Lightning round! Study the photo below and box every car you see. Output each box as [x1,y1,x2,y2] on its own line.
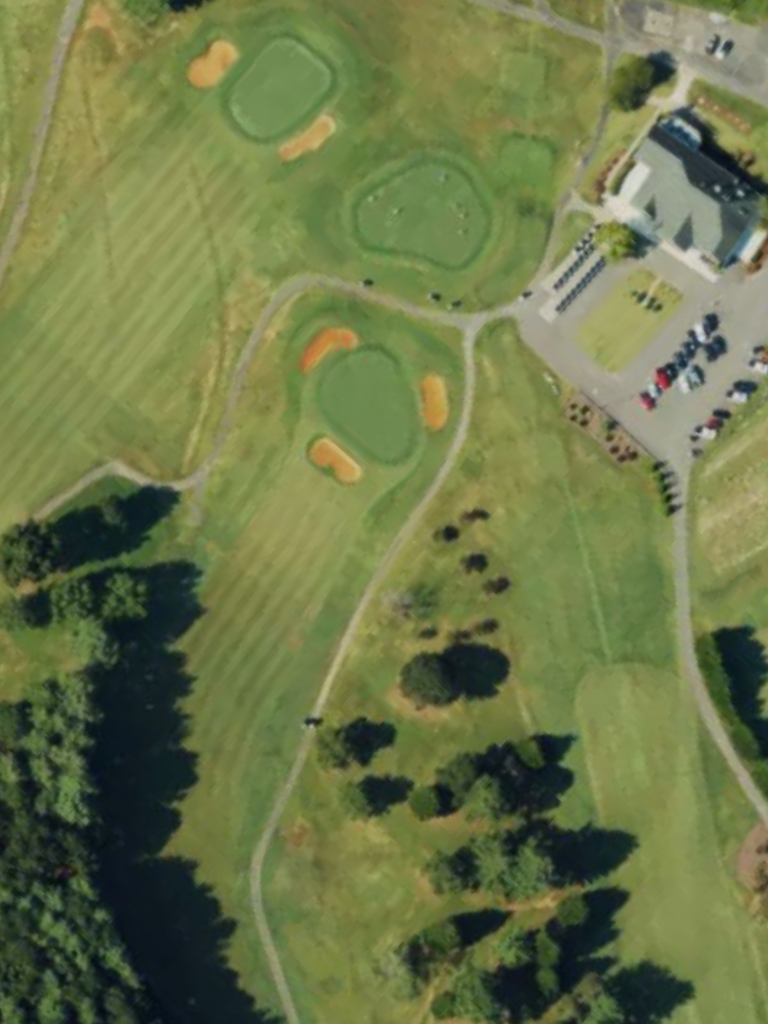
[676,373,692,393]
[680,339,696,359]
[704,35,718,55]
[705,418,725,429]
[685,366,702,388]
[672,350,689,371]
[751,361,768,374]
[758,354,768,364]
[691,323,707,343]
[639,391,655,411]
[654,367,671,389]
[751,345,768,355]
[685,330,701,350]
[715,39,730,59]
[645,379,661,399]
[696,426,717,438]
[711,409,732,421]
[708,336,725,357]
[704,311,718,334]
[663,361,679,381]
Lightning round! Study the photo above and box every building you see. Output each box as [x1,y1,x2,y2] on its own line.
[618,117,766,264]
